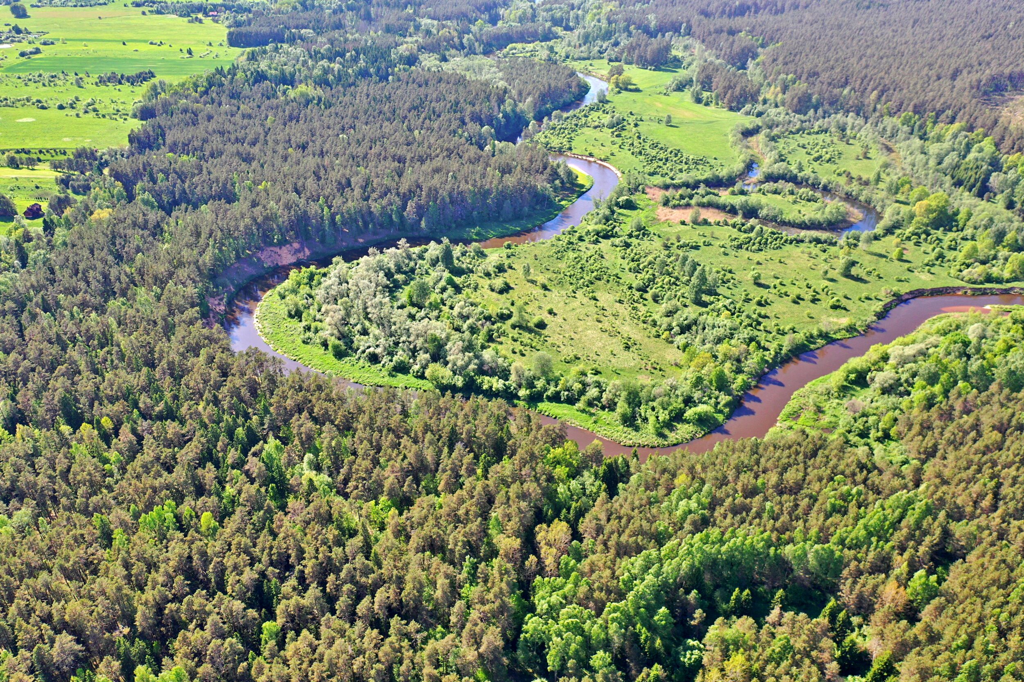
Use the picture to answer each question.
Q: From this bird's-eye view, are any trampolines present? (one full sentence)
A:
No, there is no trampoline in the image.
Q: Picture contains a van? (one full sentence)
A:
No, the picture doesn't show any van.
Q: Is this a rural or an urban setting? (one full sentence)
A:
From above, the setting appears rural.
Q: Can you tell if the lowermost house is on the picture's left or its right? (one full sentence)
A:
The lowermost house is on the left side of the image.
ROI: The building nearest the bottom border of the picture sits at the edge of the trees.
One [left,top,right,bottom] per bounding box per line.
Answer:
[17,200,45,224]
